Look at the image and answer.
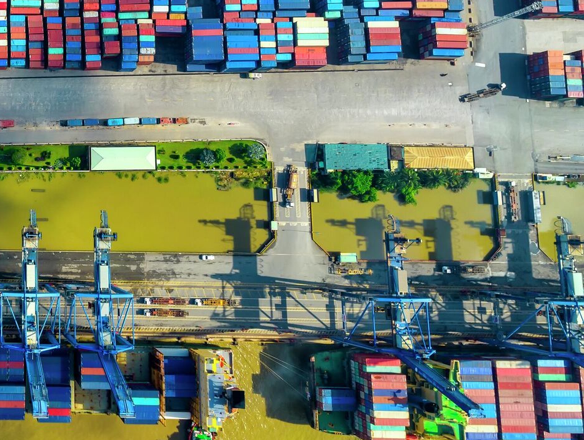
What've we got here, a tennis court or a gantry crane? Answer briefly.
gantry crane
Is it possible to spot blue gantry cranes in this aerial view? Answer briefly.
Yes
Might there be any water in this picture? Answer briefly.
Yes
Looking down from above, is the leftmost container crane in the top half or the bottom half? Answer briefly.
bottom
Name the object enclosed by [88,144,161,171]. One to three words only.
building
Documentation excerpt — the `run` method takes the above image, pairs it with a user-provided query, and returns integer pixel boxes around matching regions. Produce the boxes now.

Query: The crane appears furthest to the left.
[0,207,66,429]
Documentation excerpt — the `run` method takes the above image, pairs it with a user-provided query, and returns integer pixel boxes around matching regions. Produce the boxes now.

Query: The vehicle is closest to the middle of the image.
[286,163,299,209]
